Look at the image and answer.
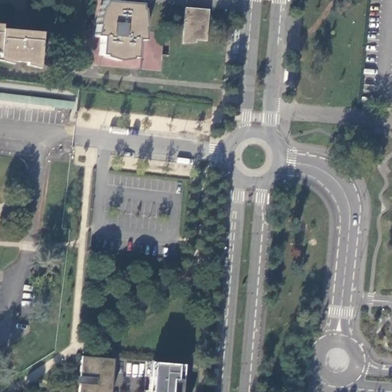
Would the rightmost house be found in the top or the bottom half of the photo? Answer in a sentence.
You can find the rightmost house in the top half.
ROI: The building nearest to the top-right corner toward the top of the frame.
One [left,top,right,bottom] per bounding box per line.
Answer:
[182,6,211,44]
